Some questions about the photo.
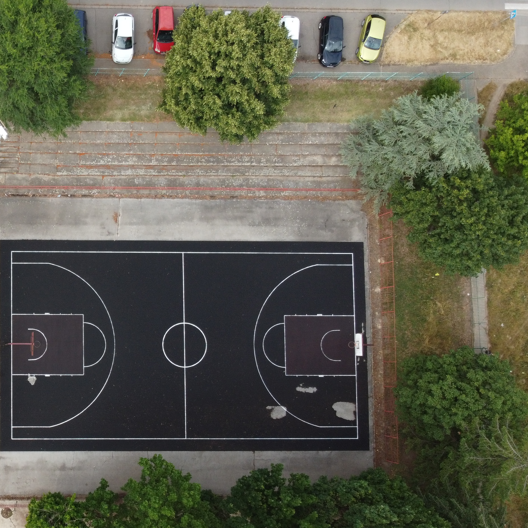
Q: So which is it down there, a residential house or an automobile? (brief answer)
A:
automobile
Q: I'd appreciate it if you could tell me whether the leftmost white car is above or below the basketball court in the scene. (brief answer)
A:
above it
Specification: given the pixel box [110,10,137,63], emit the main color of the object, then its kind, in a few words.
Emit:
white car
